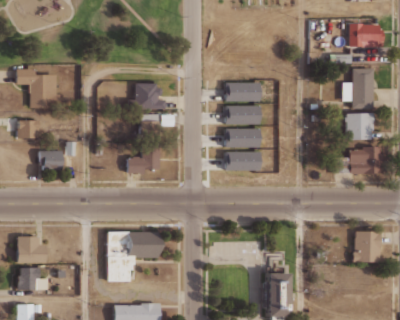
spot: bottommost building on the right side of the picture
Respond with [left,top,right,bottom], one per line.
[270,274,293,320]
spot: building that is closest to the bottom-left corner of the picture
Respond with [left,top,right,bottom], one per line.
[16,305,42,320]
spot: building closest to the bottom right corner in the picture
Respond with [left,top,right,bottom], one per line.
[354,232,383,264]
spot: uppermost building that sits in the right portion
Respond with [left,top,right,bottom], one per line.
[350,24,385,47]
